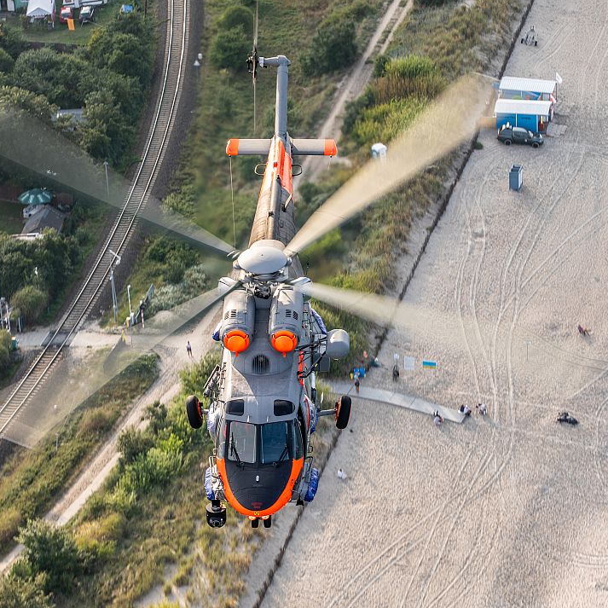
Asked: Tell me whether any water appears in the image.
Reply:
No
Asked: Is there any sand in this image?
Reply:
Yes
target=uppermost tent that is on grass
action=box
[26,0,56,30]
